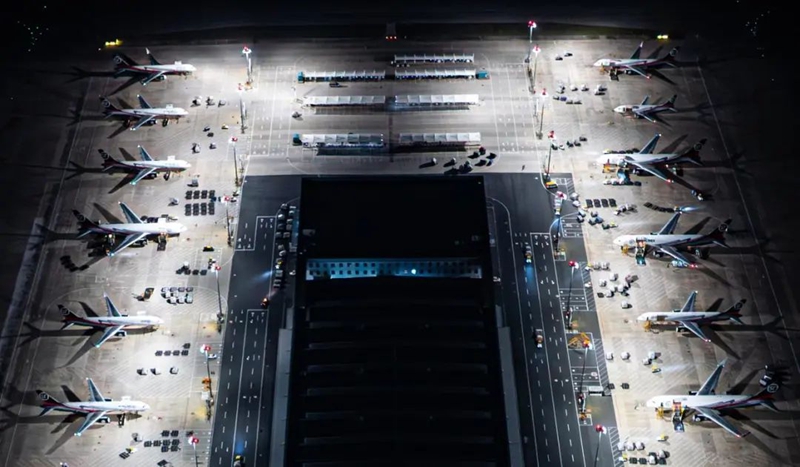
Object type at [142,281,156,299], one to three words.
work vehicle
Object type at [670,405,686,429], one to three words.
work vehicle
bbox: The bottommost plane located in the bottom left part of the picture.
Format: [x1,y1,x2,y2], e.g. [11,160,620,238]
[34,378,149,436]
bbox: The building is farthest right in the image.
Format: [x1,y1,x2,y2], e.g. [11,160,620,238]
[269,174,524,467]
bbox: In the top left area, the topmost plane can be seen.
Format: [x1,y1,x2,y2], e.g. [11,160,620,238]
[112,48,195,84]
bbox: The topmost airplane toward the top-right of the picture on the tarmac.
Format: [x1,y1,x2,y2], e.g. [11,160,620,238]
[594,44,680,81]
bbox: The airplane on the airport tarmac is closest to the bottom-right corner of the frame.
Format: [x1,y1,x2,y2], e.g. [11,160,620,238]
[647,358,788,440]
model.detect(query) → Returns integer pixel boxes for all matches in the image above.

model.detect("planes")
[112,48,195,84]
[34,378,149,436]
[99,94,188,130]
[72,201,187,254]
[96,144,191,184]
[637,290,748,342]
[647,358,788,440]
[614,212,735,269]
[597,134,710,184]
[614,96,680,122]
[594,44,680,81]
[55,295,163,346]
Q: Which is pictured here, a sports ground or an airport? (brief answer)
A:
airport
